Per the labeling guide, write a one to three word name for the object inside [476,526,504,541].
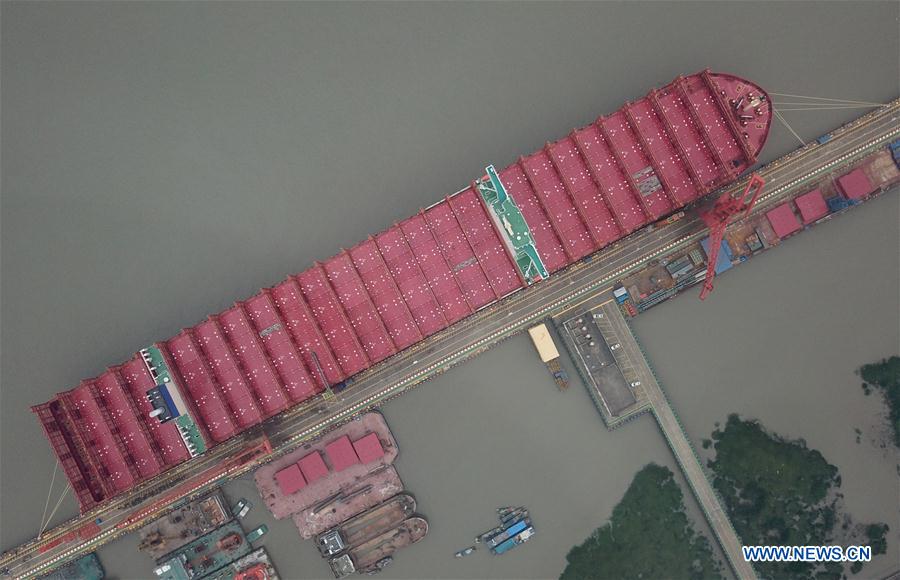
boat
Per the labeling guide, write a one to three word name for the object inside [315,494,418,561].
ship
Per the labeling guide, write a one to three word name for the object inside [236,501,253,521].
boat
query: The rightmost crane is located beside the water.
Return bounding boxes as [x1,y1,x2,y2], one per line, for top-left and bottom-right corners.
[691,174,766,301]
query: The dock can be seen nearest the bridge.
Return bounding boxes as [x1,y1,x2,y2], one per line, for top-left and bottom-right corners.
[551,287,670,431]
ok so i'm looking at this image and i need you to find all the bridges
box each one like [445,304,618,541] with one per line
[650,398,762,580]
